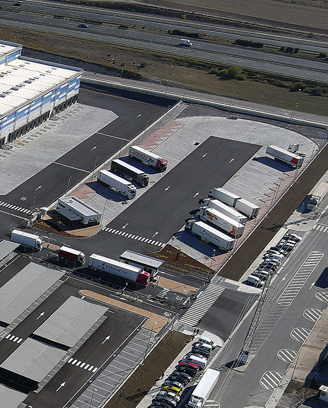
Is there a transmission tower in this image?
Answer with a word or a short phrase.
Yes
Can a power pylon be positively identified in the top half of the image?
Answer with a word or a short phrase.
No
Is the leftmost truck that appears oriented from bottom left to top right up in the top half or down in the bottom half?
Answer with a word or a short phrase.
bottom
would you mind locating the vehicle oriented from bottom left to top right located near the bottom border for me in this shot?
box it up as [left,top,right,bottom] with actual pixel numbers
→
[184,364,221,408]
